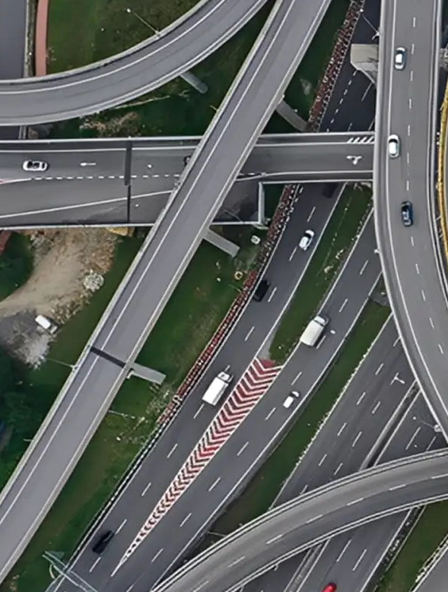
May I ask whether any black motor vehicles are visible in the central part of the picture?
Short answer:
Yes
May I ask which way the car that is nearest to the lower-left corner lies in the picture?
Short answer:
at an angle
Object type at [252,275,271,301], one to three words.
car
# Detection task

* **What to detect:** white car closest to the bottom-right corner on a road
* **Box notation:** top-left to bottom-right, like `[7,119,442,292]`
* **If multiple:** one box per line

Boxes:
[282,389,299,410]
